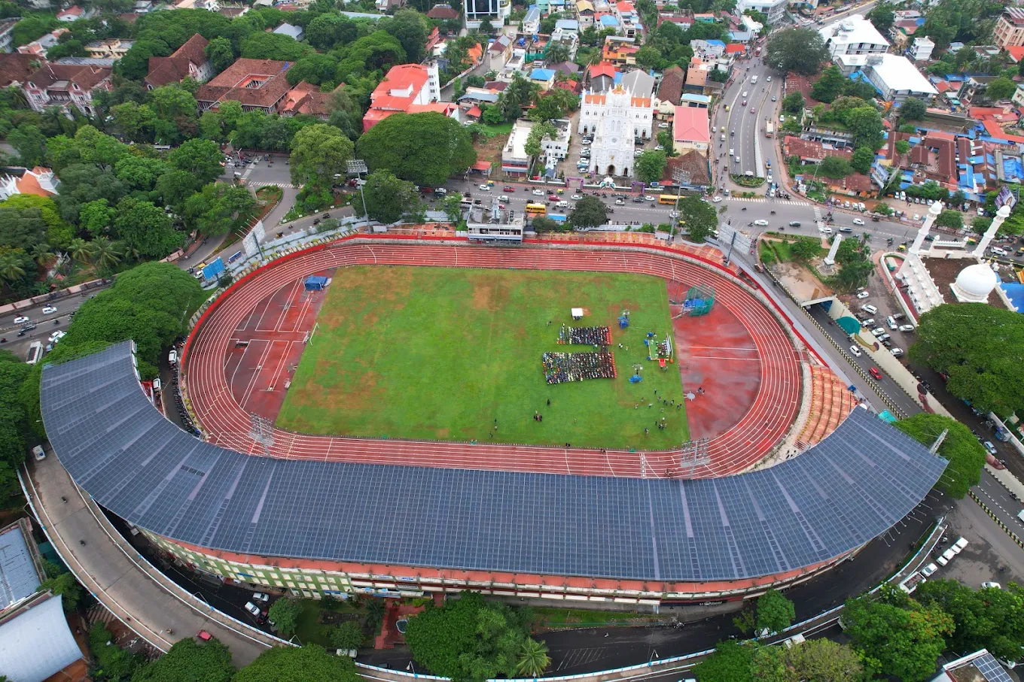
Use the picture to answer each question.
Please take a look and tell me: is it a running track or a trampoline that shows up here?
running track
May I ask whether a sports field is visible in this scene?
Yes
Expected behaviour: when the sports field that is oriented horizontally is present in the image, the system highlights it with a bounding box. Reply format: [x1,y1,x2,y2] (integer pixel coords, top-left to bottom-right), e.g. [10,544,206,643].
[272,265,688,451]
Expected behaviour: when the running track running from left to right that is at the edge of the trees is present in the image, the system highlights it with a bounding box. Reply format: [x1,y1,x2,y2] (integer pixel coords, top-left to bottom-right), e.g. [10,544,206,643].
[183,242,804,477]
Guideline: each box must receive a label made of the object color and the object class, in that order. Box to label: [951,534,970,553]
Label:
white vehicle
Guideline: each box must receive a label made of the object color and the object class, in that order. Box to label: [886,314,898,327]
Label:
white vehicle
